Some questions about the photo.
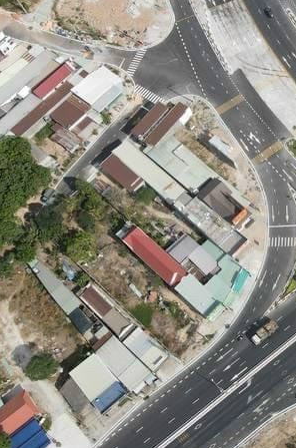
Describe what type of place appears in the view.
residential area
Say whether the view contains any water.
No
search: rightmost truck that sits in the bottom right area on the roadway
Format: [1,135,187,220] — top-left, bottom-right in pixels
[250,316,279,344]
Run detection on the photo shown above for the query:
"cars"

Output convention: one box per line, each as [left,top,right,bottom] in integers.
[40,187,54,200]
[264,6,274,18]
